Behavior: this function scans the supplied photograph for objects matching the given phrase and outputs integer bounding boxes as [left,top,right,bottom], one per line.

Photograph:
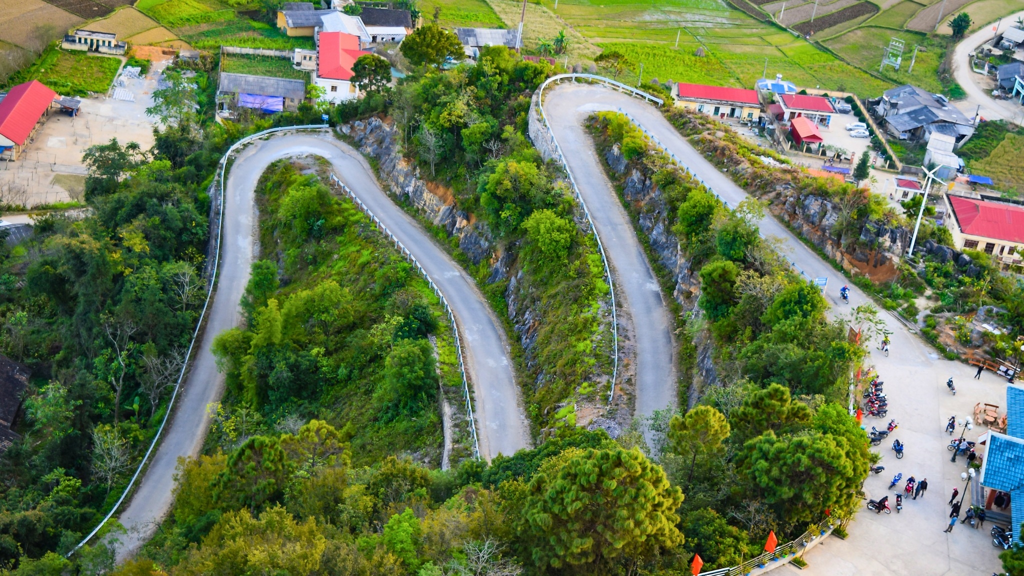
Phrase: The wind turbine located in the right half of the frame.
[904,160,954,259]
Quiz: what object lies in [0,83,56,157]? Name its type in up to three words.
building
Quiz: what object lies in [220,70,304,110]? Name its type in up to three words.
building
